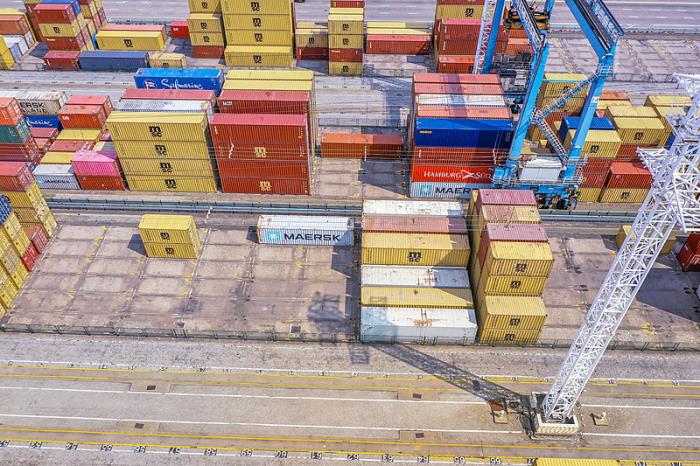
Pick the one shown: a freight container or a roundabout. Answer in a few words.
freight container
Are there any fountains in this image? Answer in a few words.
No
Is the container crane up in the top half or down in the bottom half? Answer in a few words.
top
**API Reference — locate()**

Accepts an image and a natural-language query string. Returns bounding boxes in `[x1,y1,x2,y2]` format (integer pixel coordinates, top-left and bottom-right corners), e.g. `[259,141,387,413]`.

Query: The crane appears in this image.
[478,0,640,207]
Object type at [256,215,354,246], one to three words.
shipping container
